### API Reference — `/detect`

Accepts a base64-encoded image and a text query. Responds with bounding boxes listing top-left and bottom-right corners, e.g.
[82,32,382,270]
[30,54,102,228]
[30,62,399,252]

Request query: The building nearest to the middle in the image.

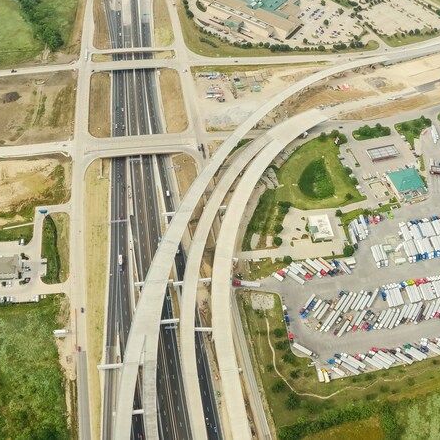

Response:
[307,214,334,241]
